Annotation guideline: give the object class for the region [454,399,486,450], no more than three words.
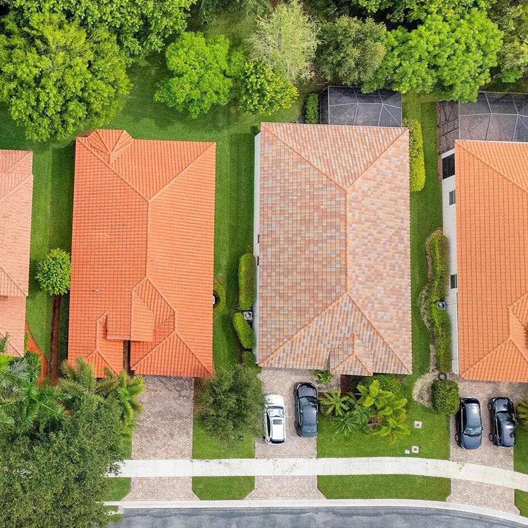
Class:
car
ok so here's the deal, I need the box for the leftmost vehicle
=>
[261,395,289,447]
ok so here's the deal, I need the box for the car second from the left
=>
[294,384,320,439]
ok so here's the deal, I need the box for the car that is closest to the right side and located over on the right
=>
[486,397,519,449]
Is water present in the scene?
No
